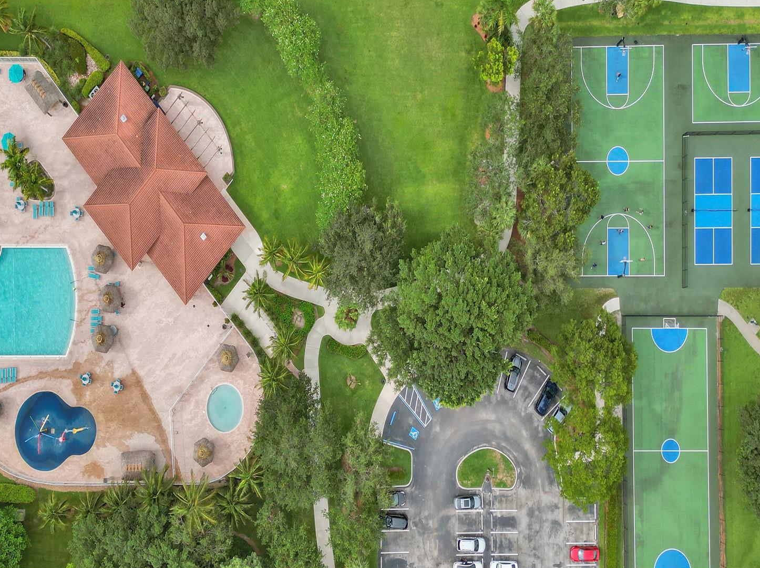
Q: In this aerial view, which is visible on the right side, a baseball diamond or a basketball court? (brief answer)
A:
basketball court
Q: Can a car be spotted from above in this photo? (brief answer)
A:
Yes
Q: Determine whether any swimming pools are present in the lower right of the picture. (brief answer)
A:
No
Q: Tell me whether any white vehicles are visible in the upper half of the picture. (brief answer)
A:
No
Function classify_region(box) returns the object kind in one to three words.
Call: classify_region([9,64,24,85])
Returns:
umbrella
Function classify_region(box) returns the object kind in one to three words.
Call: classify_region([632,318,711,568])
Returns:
sports court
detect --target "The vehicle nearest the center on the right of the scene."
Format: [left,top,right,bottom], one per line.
[504,354,521,395]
